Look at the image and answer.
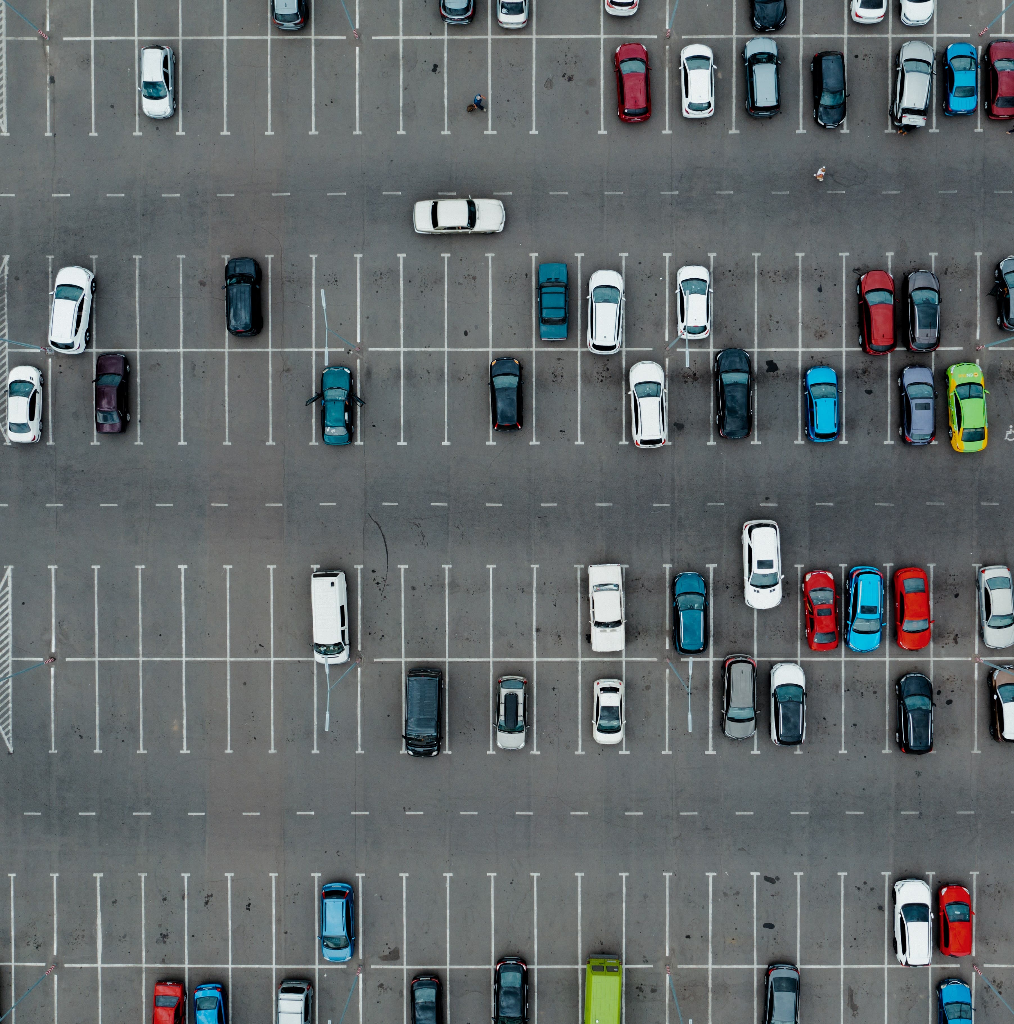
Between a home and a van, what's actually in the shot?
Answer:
van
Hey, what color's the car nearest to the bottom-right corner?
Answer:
blue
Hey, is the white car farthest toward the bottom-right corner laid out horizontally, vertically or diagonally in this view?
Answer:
vertically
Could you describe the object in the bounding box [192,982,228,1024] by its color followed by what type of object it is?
blue car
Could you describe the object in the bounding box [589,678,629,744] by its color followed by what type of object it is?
white car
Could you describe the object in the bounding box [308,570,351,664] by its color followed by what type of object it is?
white van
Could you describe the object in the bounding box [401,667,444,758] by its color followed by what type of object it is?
black van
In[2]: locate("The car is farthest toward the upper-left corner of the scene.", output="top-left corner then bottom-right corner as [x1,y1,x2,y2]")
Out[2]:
[135,45,177,119]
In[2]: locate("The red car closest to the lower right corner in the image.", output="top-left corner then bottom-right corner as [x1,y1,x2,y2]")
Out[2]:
[936,884,979,958]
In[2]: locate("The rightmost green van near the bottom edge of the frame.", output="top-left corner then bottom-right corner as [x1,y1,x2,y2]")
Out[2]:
[585,952,622,1024]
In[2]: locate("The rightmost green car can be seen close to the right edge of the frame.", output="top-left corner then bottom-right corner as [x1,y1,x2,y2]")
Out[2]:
[944,363,991,452]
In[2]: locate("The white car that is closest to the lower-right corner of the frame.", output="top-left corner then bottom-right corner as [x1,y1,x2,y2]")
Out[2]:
[893,878,939,969]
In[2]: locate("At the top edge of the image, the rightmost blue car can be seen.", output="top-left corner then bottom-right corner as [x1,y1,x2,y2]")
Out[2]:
[940,42,985,116]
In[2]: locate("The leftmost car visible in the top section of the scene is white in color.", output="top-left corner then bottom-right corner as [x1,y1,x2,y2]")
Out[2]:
[1,365,45,443]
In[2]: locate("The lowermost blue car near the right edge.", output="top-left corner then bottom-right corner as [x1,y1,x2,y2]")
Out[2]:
[935,977,979,1024]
